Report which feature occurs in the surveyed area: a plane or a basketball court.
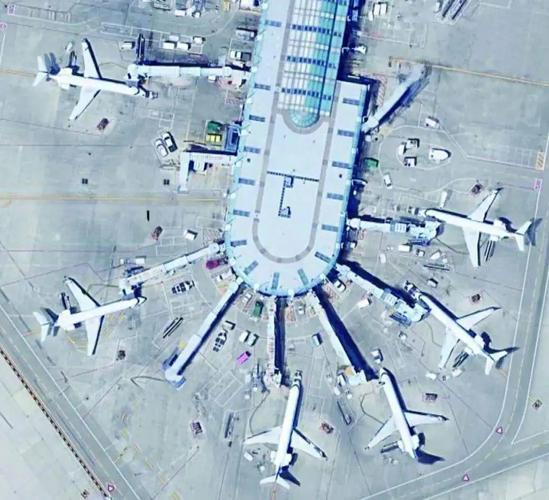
plane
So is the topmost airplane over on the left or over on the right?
left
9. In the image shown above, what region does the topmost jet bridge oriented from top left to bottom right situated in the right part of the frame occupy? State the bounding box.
[333,260,427,326]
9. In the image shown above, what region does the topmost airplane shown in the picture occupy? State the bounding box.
[32,39,139,120]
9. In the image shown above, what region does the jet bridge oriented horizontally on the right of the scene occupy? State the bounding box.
[346,217,439,244]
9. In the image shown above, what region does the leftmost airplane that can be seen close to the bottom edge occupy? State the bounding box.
[244,377,324,485]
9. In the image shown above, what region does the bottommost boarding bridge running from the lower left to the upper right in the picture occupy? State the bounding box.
[165,279,244,386]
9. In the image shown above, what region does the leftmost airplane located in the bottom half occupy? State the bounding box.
[31,277,138,356]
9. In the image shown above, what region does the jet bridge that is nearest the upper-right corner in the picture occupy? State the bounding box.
[360,62,426,133]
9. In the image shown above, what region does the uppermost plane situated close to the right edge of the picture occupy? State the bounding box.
[425,187,532,267]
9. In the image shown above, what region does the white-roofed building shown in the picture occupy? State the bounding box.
[225,0,367,296]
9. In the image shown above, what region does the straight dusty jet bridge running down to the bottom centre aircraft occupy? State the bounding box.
[265,294,284,389]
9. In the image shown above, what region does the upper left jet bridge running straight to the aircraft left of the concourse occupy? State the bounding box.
[127,59,250,78]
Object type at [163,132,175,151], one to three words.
vehicle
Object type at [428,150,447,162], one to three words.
vehicle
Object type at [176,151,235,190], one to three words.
jet bridge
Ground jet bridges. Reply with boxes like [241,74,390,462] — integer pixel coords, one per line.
[360,62,426,133]
[265,294,284,389]
[346,217,439,244]
[118,243,226,294]
[165,279,244,386]
[333,260,427,326]
[127,59,250,78]
[307,287,365,386]
[176,151,235,190]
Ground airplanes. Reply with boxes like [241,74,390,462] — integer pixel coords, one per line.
[244,377,324,485]
[365,369,443,475]
[416,293,507,375]
[32,39,139,120]
[31,277,138,356]
[425,187,532,267]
